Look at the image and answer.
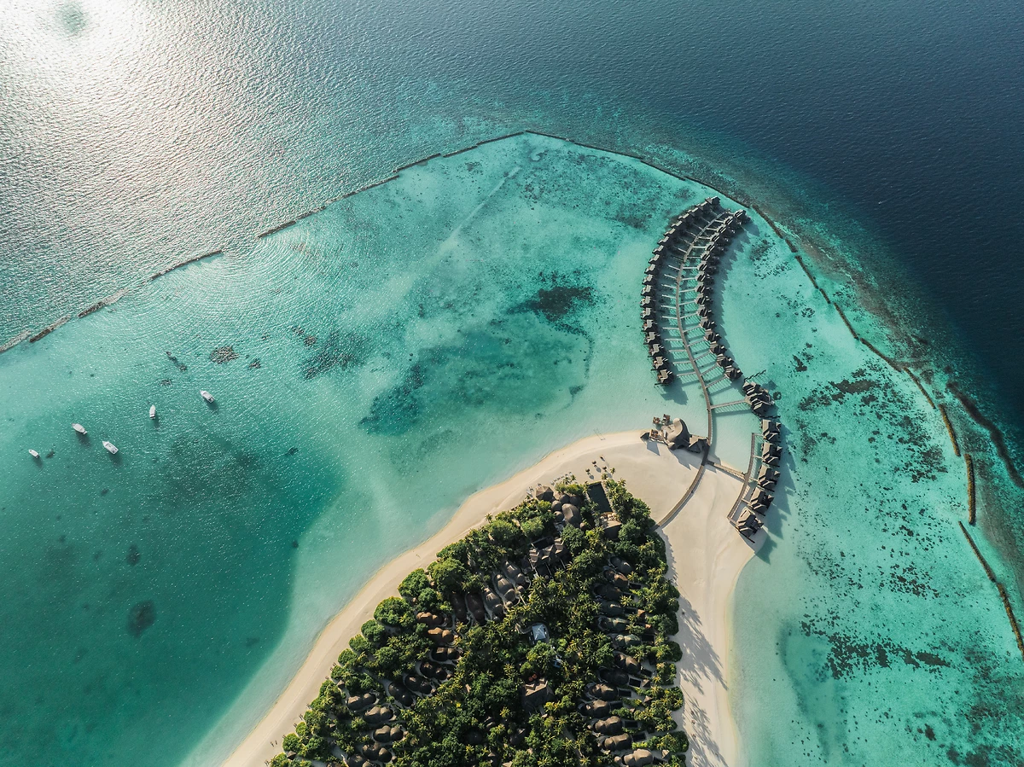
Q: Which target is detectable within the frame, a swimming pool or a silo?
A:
swimming pool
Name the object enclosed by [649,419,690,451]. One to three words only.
building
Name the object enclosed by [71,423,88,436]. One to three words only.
boat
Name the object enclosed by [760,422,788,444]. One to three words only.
house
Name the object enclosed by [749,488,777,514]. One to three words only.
house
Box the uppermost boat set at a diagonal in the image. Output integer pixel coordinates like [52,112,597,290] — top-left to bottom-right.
[200,390,216,404]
